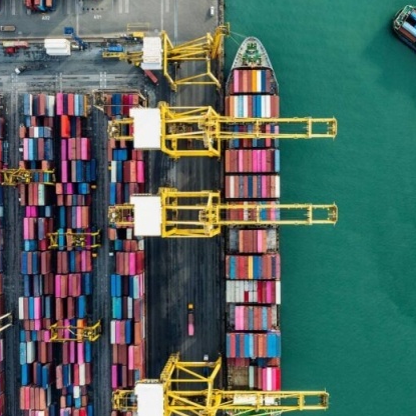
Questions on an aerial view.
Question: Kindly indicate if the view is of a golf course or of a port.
port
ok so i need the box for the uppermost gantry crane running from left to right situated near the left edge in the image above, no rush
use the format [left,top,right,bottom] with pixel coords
[5,168,63,185]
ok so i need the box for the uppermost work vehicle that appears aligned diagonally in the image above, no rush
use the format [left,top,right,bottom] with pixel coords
[62,24,88,54]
